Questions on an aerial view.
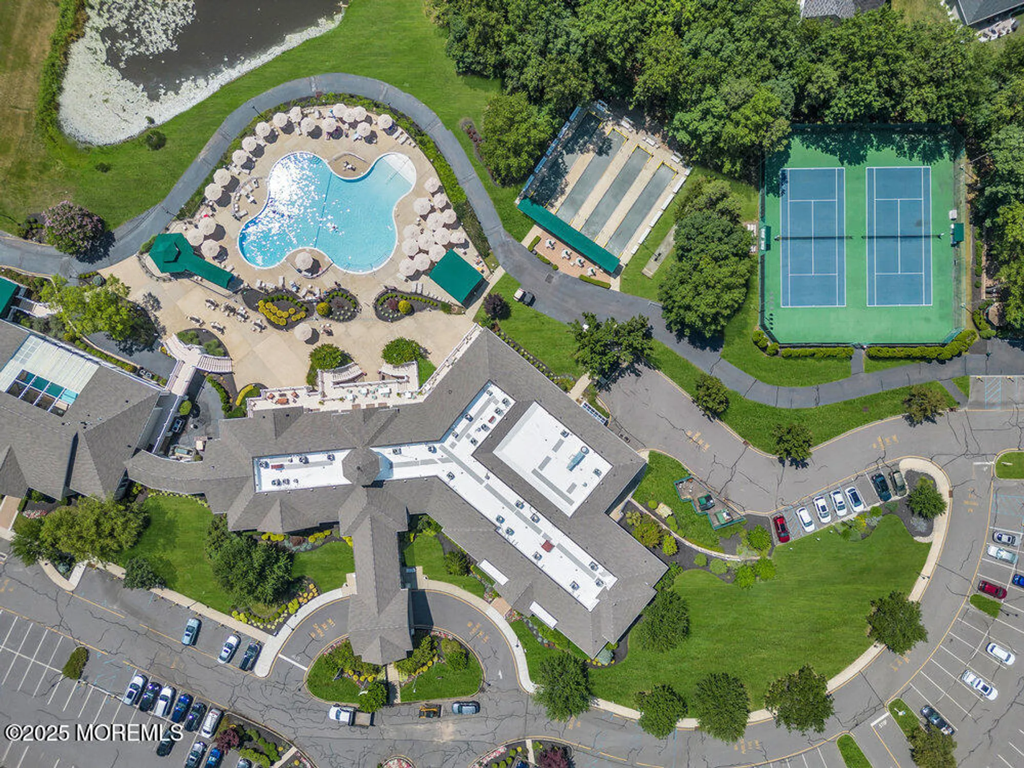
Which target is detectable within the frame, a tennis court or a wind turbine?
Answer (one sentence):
This aerial view contains a tennis court.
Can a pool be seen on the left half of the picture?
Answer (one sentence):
Yes, looking on the left half of the picture, one can make out a pool.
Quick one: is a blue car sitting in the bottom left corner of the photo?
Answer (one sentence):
Yes, you'll find a blue car in the bottom left corner of the photo.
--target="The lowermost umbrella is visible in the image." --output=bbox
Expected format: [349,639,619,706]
[294,323,313,341]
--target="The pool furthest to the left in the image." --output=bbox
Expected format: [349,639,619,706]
[25,374,76,404]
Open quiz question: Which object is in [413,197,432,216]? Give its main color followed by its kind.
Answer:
white umbrella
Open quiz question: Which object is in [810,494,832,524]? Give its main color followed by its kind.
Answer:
white car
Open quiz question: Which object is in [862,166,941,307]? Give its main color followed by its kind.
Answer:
blue tennis court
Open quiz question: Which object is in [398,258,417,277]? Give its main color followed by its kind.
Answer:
white umbrella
